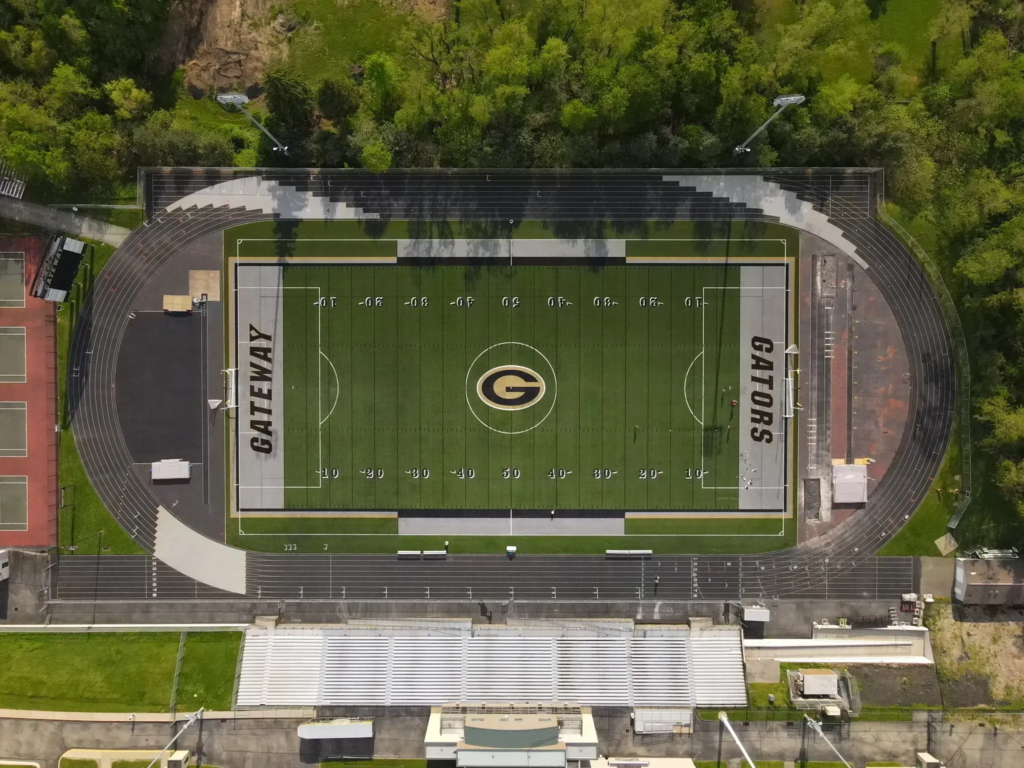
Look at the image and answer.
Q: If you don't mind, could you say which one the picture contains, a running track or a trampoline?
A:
running track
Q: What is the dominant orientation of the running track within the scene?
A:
from left to right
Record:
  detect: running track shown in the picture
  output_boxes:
[51,170,954,600]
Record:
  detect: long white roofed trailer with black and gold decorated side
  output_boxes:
[296,717,374,739]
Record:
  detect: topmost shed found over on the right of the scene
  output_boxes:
[955,558,1024,607]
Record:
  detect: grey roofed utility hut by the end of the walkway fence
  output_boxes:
[742,605,771,623]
